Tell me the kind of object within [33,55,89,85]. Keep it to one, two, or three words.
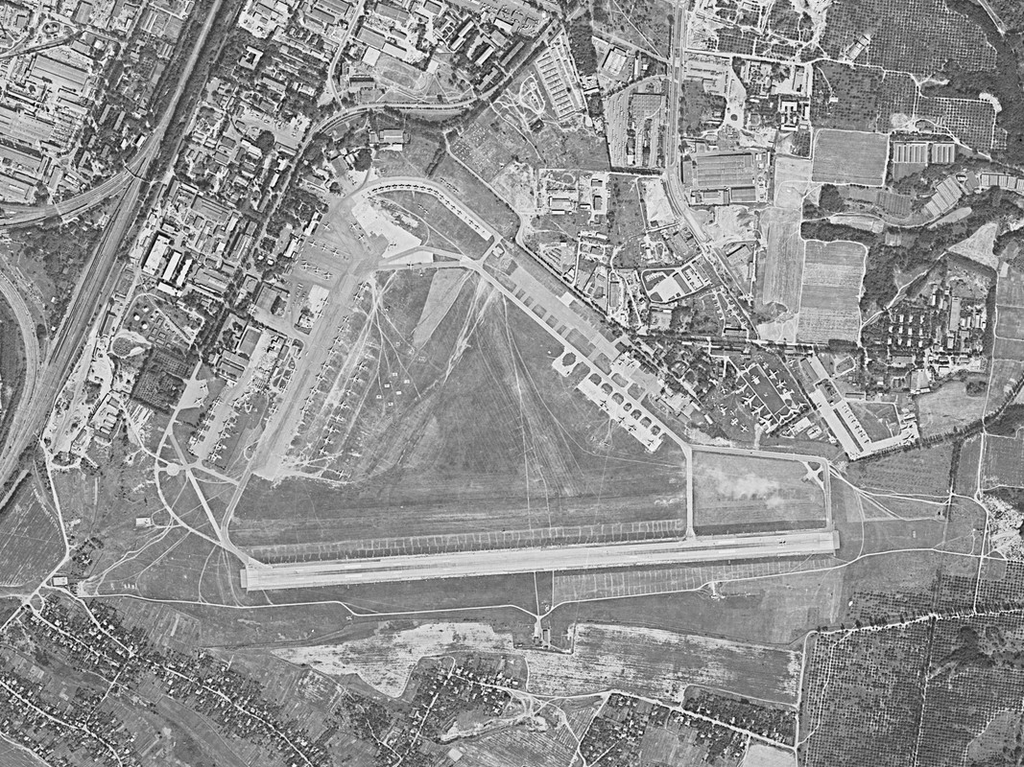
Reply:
building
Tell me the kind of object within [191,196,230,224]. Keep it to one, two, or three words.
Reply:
building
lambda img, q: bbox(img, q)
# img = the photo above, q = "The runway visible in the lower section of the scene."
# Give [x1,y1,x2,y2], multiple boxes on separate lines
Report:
[248,535,834,587]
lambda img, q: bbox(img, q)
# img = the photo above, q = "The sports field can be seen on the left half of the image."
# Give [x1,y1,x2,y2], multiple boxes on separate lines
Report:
[376,52,433,93]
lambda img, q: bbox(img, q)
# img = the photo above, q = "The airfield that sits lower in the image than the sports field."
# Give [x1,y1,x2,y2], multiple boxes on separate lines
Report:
[155,175,919,605]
